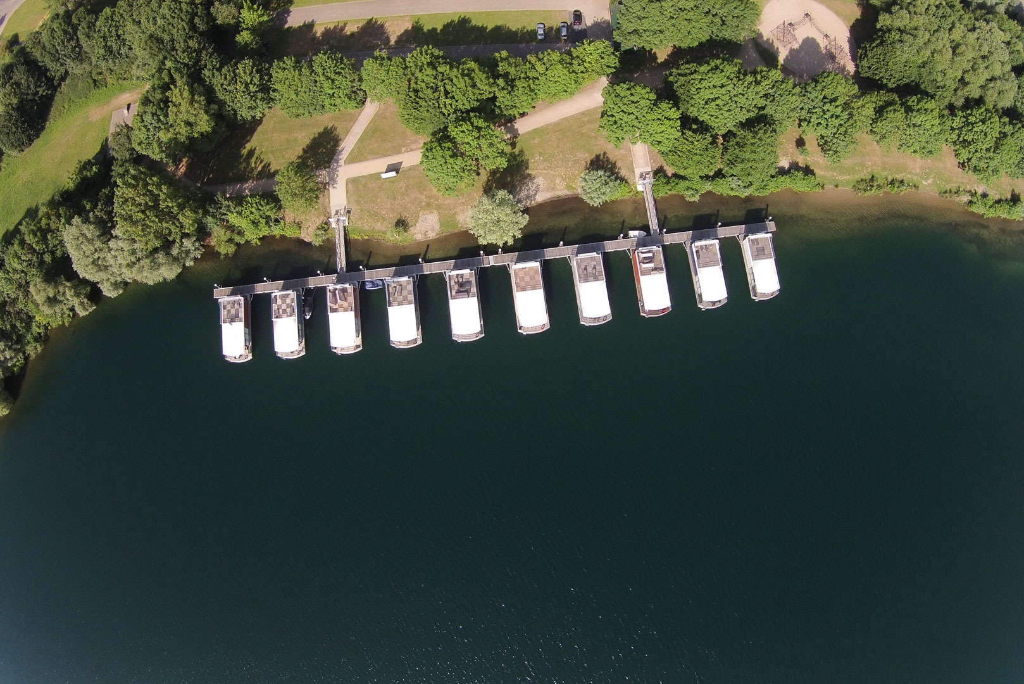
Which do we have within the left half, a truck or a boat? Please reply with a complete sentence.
There is a boat within the left half.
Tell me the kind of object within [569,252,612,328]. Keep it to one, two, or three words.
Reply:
boat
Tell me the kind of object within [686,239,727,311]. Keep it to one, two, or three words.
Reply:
boat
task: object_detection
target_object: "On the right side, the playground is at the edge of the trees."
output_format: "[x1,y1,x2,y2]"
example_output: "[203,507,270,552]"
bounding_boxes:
[759,0,854,81]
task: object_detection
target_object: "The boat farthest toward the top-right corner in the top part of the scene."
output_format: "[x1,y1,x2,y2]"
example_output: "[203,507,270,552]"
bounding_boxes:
[739,233,781,302]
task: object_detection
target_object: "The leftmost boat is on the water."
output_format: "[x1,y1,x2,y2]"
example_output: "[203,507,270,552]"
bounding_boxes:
[217,295,254,364]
